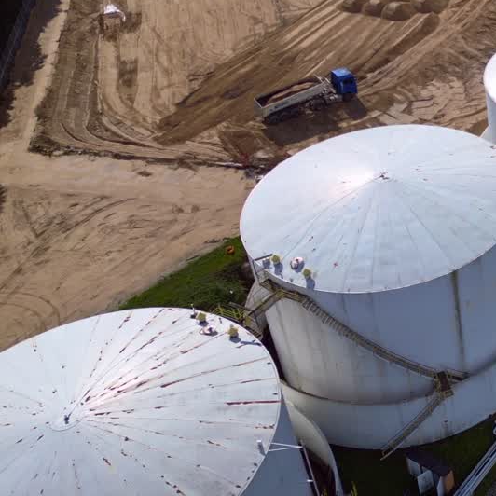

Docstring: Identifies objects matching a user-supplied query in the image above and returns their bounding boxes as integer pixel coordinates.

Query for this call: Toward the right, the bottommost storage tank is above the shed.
[239,125,496,401]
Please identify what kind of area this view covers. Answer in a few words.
industrial area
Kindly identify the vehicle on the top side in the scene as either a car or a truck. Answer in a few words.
truck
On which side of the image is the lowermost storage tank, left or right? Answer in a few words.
left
